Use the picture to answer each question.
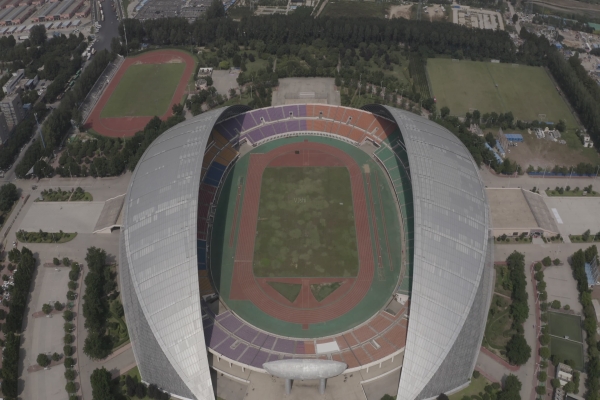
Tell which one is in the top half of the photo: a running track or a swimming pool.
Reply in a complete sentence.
The feature located in the top half of the photo is a running track.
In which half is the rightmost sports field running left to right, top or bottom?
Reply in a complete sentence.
It is in the top half that the rightmost sports field running left to right appears.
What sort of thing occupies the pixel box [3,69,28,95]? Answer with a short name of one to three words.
building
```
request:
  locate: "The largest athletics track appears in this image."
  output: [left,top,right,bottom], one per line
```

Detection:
[203,134,409,340]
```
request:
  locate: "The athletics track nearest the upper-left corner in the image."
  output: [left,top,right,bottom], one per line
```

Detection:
[87,47,198,140]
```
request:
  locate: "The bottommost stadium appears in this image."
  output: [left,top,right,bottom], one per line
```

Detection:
[93,93,562,400]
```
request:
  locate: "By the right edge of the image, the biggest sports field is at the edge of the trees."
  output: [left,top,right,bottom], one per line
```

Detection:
[427,59,580,128]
